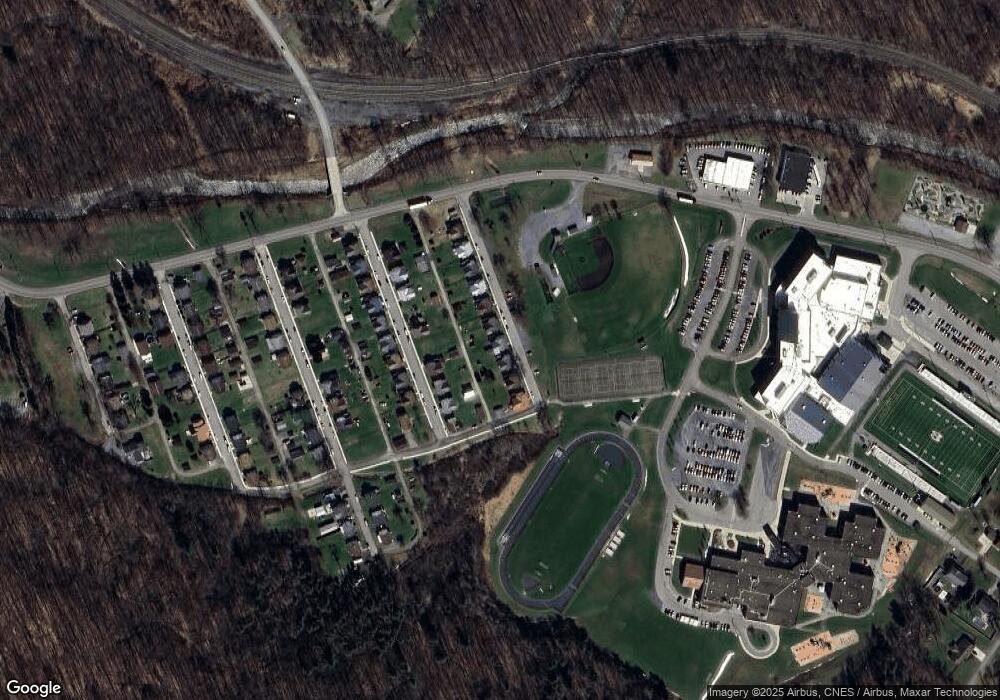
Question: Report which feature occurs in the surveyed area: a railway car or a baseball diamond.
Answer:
baseball diamond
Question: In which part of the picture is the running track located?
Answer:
bottom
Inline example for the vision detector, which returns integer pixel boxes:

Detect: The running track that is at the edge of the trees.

[494,429,642,615]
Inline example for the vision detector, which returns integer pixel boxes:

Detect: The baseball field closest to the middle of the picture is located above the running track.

[554,226,632,303]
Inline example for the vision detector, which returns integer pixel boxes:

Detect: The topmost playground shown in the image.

[800,481,857,503]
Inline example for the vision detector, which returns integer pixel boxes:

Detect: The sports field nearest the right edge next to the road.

[858,364,1000,513]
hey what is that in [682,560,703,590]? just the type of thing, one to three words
building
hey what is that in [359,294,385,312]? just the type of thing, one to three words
house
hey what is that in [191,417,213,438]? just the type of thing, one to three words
house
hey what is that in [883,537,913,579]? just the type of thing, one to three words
playground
